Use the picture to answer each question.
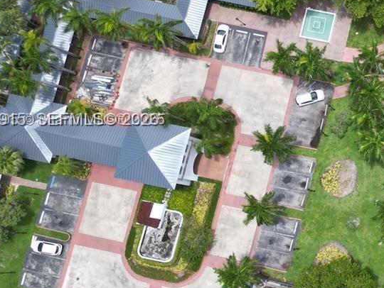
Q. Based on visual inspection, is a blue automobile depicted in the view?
No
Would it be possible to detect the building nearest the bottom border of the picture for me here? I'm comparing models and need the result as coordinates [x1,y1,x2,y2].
[138,200,171,228]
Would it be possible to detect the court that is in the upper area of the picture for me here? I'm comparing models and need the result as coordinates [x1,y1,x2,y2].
[300,10,335,42]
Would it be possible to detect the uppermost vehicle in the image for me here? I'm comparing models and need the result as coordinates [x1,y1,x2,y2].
[214,27,231,54]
